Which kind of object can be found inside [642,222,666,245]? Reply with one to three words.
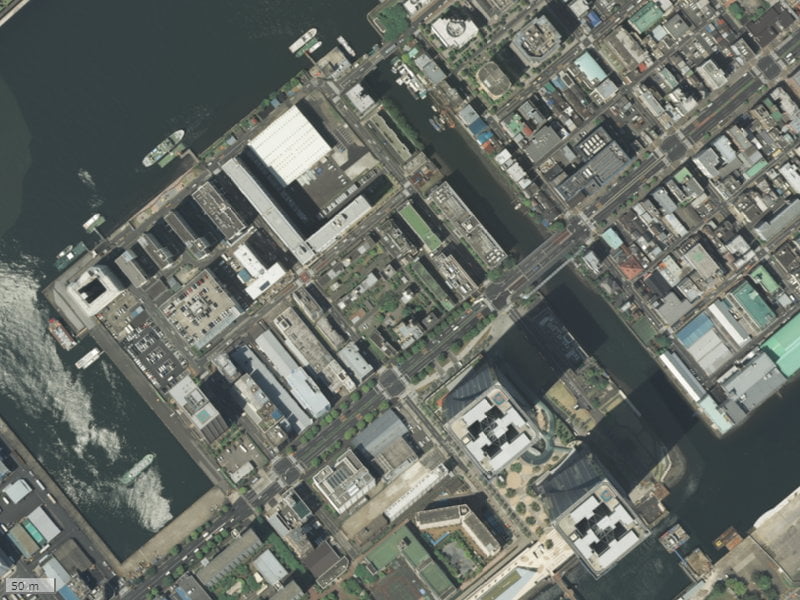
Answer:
building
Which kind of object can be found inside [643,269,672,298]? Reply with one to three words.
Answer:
building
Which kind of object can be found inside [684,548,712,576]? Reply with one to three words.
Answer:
pier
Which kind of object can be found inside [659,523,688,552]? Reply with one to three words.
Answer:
ship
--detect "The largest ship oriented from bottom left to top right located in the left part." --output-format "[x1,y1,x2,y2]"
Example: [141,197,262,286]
[140,130,186,168]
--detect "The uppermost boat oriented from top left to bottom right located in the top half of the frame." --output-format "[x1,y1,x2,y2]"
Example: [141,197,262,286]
[338,38,356,58]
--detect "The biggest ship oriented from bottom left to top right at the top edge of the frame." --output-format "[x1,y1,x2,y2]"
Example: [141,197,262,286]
[288,29,317,54]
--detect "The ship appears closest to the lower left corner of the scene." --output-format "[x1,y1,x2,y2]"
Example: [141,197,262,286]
[120,454,155,484]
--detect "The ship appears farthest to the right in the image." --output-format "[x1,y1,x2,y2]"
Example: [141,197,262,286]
[712,526,743,551]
